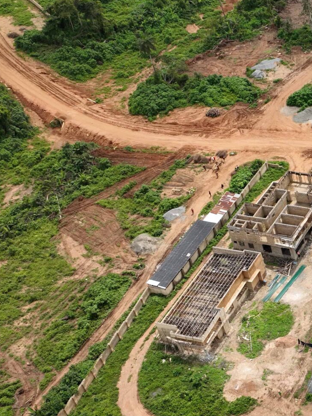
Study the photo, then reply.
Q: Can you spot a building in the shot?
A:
Yes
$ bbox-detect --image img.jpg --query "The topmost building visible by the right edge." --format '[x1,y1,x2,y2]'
[227,170,312,260]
